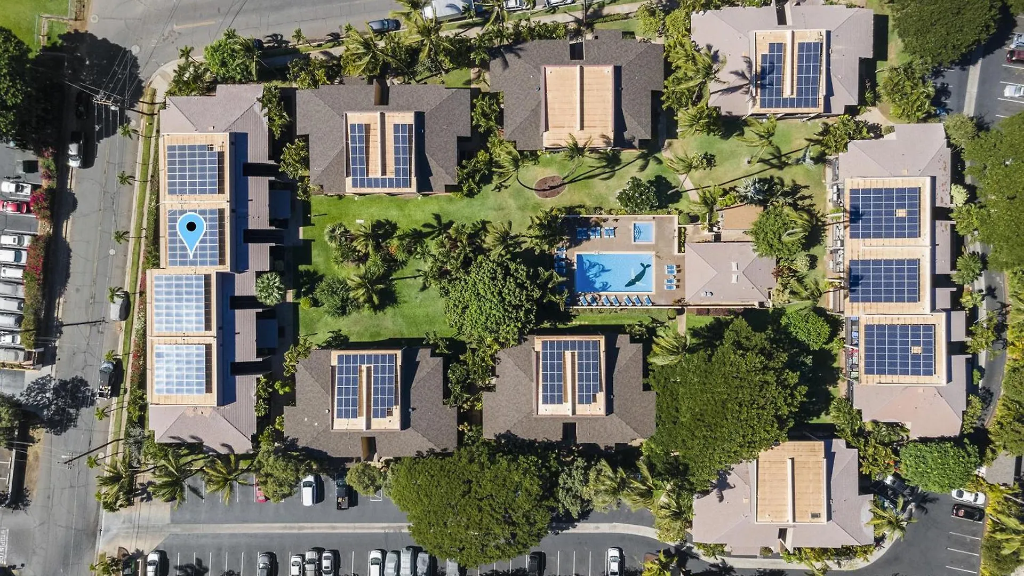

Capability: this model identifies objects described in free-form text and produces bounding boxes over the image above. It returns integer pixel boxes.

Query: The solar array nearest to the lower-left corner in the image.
[157,344,205,395]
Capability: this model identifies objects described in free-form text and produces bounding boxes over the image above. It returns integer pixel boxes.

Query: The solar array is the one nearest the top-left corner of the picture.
[169,144,218,195]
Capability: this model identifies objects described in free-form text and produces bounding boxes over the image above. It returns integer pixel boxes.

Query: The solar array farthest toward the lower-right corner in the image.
[863,324,934,375]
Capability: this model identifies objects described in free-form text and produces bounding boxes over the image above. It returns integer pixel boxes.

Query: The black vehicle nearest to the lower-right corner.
[949,503,982,520]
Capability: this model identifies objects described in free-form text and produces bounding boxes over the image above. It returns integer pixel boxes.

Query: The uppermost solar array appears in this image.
[760,42,821,109]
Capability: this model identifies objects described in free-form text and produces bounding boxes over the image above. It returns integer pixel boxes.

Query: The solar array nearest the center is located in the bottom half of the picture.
[542,340,599,404]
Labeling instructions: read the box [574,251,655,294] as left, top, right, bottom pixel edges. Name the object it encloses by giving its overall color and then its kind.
blue swimming pool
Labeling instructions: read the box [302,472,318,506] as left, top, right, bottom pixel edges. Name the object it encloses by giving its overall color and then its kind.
white car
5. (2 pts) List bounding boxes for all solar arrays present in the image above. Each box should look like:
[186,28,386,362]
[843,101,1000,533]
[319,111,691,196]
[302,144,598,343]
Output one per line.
[350,124,409,188]
[849,188,919,238]
[863,324,934,375]
[848,259,919,302]
[156,275,206,331]
[760,42,821,109]
[157,344,205,395]
[170,209,220,266]
[169,144,218,195]
[542,340,599,404]
[337,355,395,418]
